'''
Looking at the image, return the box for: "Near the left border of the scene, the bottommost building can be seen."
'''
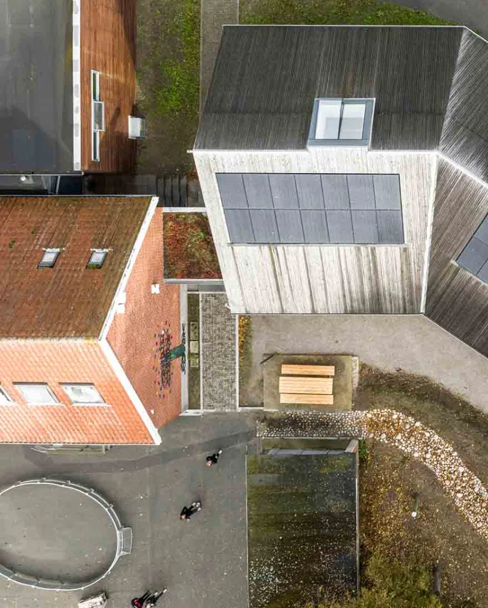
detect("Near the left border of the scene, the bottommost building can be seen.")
[0,193,187,448]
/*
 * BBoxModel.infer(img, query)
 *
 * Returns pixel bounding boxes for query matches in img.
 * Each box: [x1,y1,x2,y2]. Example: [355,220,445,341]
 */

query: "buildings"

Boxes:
[0,0,137,177]
[187,25,488,359]
[247,435,362,608]
[0,193,187,448]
